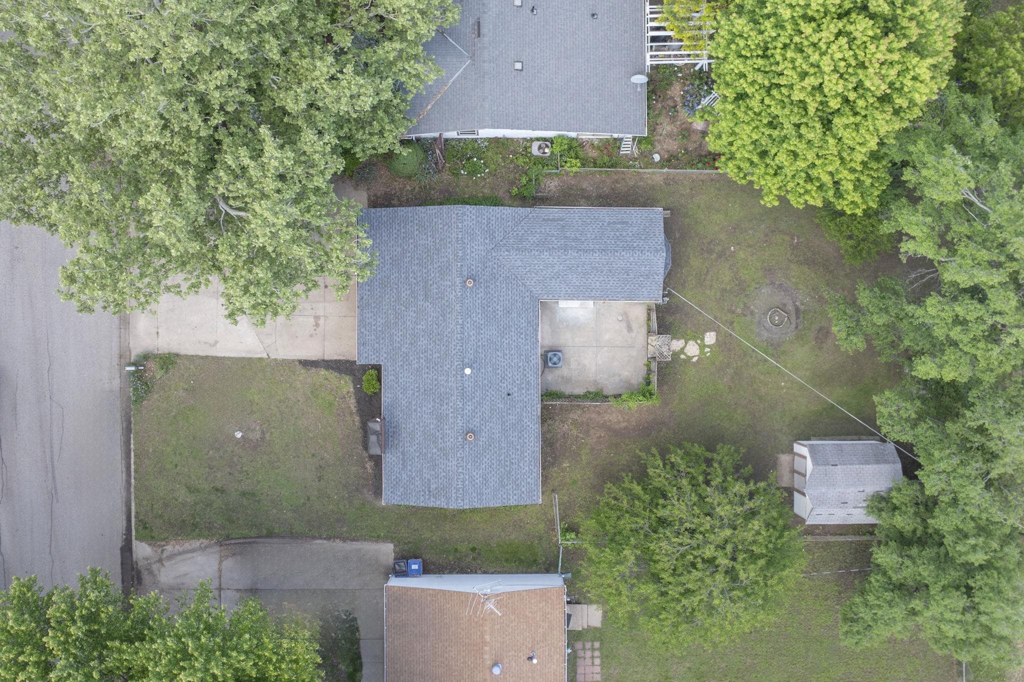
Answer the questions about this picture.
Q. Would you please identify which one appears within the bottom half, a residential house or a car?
residential house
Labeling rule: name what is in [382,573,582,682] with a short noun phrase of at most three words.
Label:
house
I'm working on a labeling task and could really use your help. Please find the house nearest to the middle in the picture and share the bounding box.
[355,205,670,508]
